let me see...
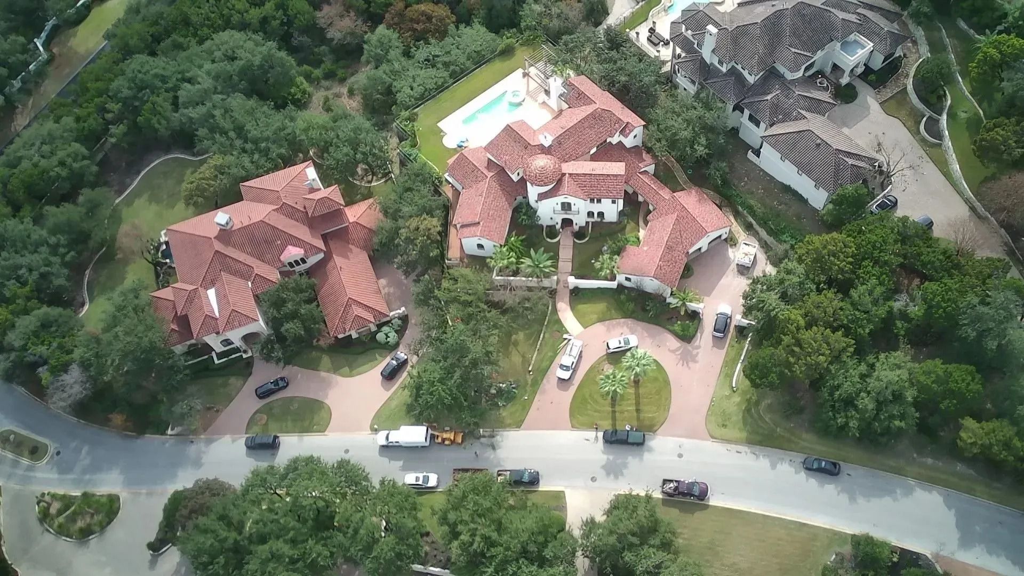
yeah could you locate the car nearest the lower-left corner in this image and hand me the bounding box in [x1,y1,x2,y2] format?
[243,433,282,451]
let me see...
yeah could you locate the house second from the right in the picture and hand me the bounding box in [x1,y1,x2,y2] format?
[448,74,733,297]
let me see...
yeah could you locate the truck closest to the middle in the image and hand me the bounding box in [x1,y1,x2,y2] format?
[555,335,585,381]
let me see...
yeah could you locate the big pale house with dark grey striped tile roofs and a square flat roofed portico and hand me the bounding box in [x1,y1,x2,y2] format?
[670,0,911,212]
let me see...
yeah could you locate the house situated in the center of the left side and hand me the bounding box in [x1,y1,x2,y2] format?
[149,160,391,354]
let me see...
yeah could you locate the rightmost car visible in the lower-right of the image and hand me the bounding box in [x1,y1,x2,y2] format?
[802,457,841,477]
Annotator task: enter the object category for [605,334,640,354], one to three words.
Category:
car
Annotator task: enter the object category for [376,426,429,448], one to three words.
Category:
truck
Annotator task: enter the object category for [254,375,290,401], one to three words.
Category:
car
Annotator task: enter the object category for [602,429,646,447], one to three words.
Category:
vehicle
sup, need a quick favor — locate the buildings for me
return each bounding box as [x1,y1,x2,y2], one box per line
[149,160,391,354]
[448,74,733,297]
[670,0,911,212]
